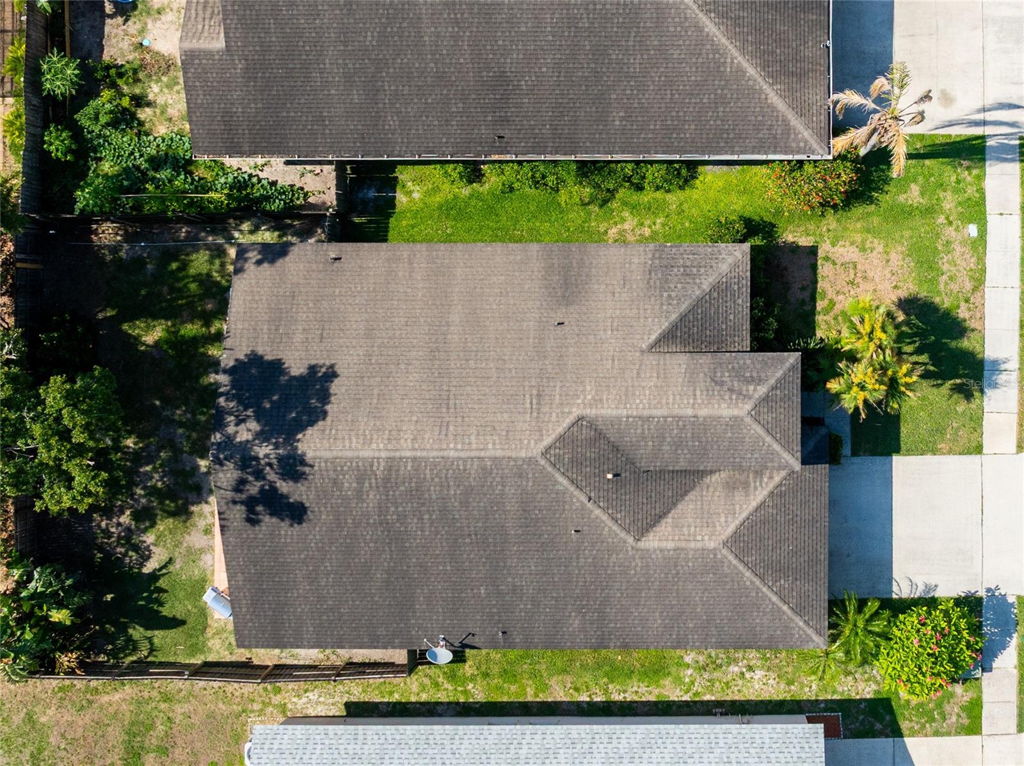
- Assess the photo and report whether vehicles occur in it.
No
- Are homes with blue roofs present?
No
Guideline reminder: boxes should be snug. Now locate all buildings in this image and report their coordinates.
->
[178,0,832,163]
[209,241,828,651]
[249,707,829,766]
